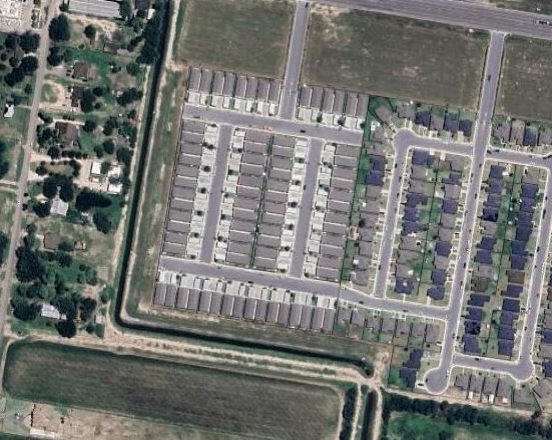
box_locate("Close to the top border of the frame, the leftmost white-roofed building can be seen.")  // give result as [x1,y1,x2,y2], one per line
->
[0,0,21,21]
